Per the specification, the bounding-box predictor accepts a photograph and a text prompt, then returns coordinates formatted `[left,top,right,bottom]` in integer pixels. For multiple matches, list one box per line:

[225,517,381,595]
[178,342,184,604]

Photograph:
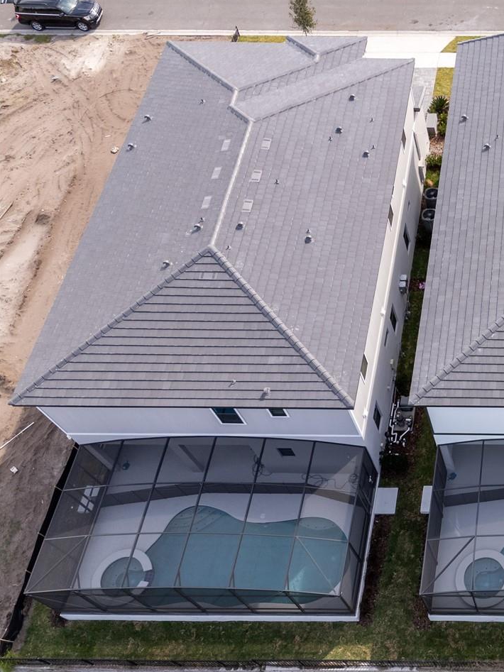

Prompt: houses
[408,32,504,468]
[9,34,428,471]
